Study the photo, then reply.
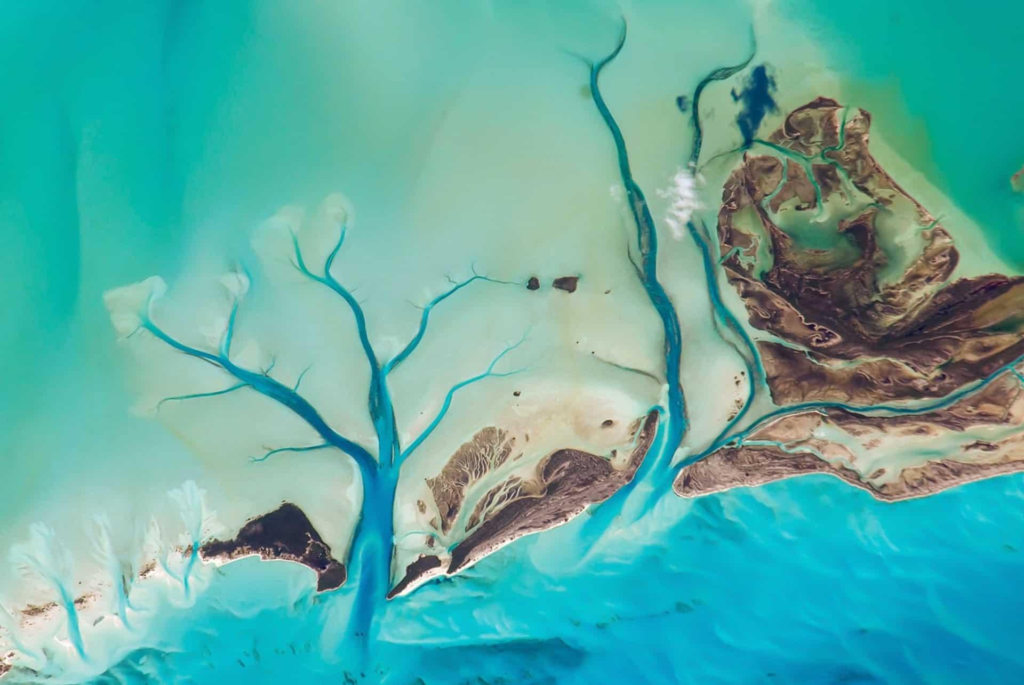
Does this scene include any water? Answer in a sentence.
Yes, water shows up in the scene.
